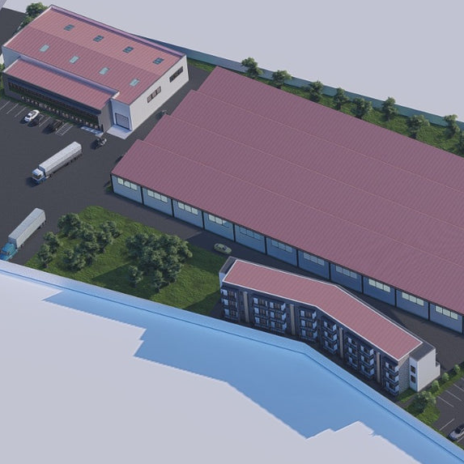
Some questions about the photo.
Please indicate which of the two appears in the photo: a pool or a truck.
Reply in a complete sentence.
I can see a truck in this picture.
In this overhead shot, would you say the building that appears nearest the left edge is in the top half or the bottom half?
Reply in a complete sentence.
The building that appears nearest the left edge is in the top half of the image.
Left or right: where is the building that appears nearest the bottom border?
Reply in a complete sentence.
You can find the building that appears nearest the bottom border on the right side of the picture.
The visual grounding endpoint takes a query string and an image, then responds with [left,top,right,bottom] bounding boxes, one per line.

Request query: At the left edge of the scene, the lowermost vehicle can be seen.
[0,209,48,261]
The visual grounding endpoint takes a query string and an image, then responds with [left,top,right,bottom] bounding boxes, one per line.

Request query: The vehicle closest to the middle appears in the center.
[213,244,233,256]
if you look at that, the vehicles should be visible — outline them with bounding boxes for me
[95,133,110,145]
[0,209,48,261]
[33,142,83,185]
[213,244,233,256]
[451,424,464,439]
[157,106,171,118]
[23,110,40,123]
[116,149,125,162]
[31,114,48,127]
